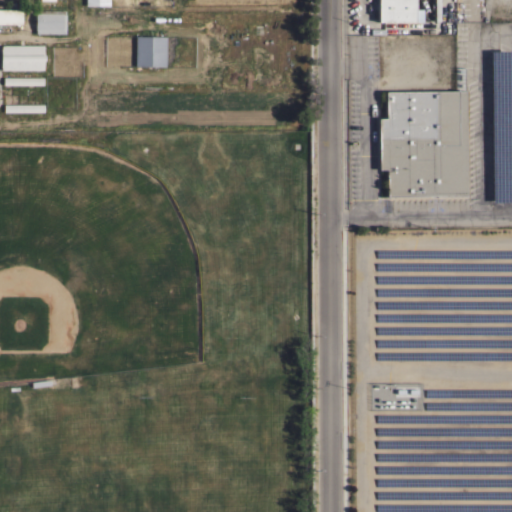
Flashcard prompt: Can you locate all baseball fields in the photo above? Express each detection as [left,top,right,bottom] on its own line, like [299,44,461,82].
[0,142,202,384]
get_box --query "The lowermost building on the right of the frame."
[381,92,468,196]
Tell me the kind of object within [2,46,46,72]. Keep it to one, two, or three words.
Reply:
barn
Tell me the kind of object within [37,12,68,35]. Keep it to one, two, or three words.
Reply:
shed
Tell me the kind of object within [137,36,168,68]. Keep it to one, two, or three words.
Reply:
barn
